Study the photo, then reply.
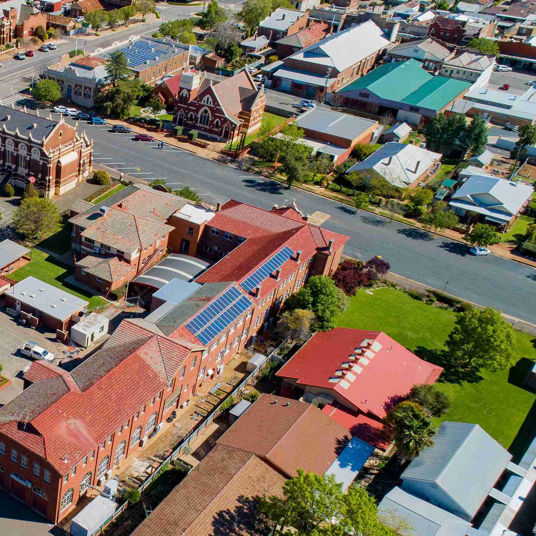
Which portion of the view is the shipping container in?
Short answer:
bottom left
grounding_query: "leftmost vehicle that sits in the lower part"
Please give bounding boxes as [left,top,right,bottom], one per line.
[21,341,55,363]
